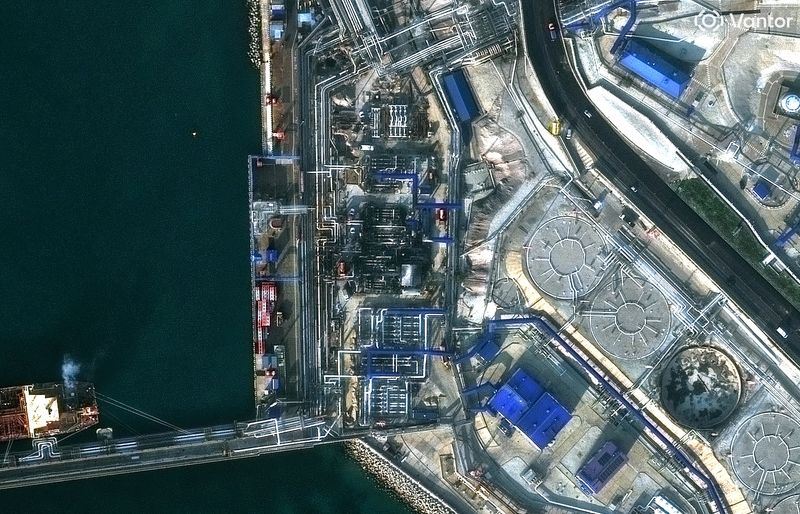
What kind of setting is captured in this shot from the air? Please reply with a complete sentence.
This looks like an industrial area.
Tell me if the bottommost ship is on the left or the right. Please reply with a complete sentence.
You can find the bottommost ship on the left side of the picture.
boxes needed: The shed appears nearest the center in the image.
[402,263,420,293]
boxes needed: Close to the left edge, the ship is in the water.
[0,382,98,441]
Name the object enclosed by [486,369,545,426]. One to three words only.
building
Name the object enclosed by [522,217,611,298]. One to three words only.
storage tank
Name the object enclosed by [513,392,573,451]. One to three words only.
building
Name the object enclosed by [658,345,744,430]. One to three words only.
storage tank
